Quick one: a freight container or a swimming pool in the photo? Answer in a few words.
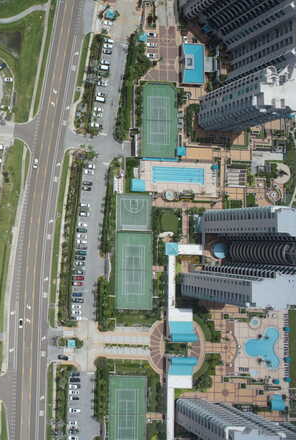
swimming pool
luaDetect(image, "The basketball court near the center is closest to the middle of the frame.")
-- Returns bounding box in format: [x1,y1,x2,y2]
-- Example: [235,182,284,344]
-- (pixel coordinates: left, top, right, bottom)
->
[115,194,152,231]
